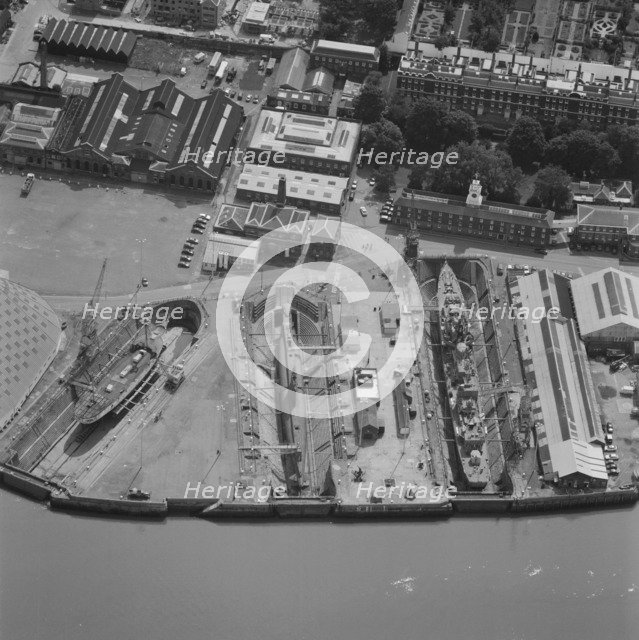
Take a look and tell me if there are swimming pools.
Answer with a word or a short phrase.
No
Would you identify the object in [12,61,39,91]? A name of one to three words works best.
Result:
shed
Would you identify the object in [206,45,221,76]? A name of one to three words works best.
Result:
vehicle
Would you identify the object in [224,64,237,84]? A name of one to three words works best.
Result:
vehicle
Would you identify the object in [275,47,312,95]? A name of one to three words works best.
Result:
building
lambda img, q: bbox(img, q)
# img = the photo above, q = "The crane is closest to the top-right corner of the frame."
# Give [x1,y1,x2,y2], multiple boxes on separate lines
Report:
[401,199,425,271]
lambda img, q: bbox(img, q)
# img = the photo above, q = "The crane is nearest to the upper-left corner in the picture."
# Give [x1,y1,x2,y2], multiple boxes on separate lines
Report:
[69,261,106,372]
